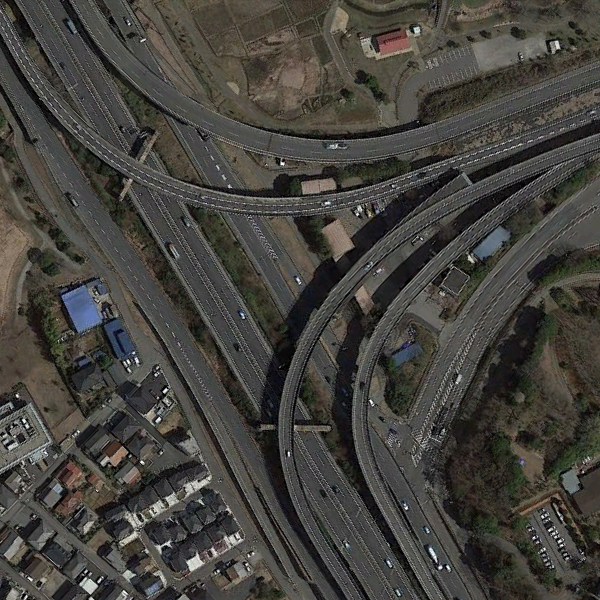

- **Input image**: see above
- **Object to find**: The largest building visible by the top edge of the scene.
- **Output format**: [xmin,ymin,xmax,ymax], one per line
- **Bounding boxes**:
[363,29,412,57]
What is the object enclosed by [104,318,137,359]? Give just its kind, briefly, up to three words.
building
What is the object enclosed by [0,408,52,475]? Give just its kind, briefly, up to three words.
building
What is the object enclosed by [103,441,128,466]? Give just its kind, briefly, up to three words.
house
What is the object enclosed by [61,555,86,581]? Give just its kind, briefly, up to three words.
house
